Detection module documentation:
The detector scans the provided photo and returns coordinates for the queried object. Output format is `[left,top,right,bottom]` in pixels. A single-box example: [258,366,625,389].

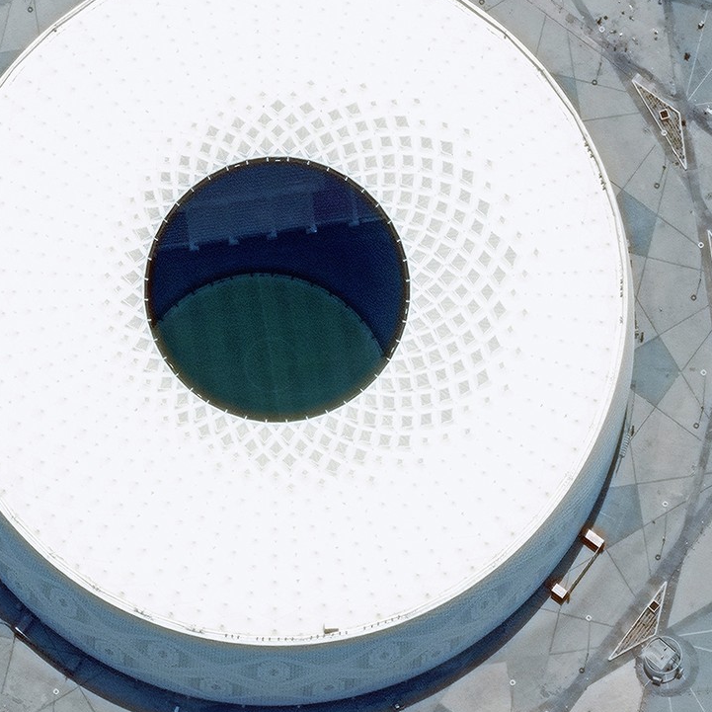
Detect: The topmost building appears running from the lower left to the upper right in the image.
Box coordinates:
[552,530,604,605]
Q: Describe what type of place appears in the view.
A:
sports ground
